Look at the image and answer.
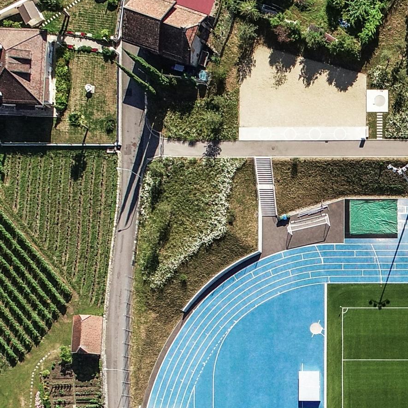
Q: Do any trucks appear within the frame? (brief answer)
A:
No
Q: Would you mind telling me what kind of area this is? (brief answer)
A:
sports ground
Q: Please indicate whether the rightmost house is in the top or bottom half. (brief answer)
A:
top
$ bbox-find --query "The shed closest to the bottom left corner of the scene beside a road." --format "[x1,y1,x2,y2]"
[71,315,107,355]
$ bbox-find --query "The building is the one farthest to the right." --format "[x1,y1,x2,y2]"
[160,5,213,71]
